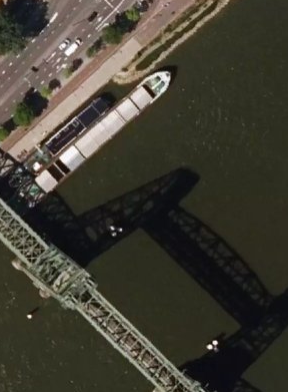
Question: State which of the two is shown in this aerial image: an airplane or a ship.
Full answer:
This aerial view contains a ship.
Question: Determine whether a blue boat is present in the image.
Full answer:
No, the photo shows no blue boat.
